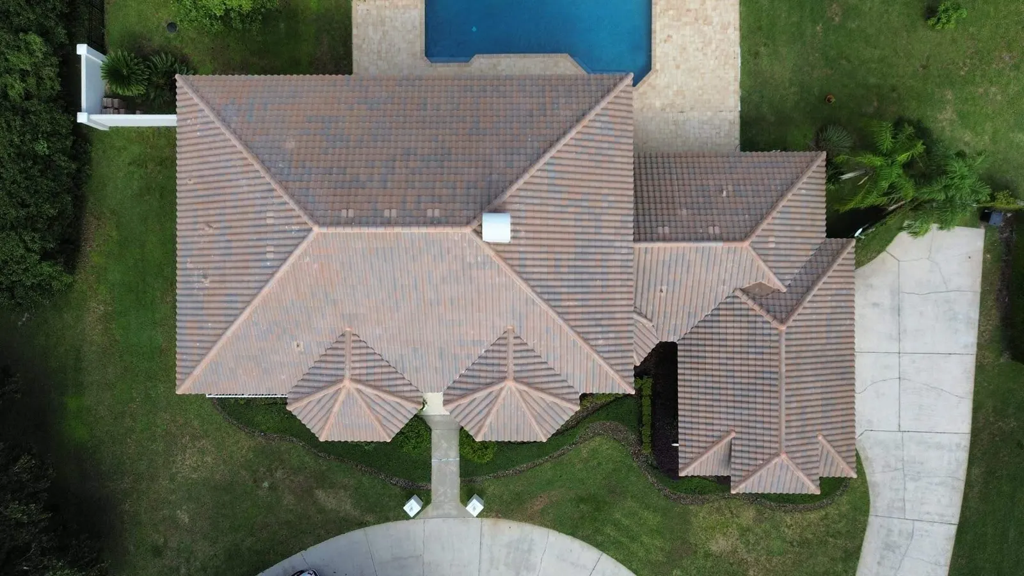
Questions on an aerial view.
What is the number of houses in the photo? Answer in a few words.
1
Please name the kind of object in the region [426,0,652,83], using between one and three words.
swimming pool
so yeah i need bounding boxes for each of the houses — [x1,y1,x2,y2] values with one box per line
[173,73,858,495]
